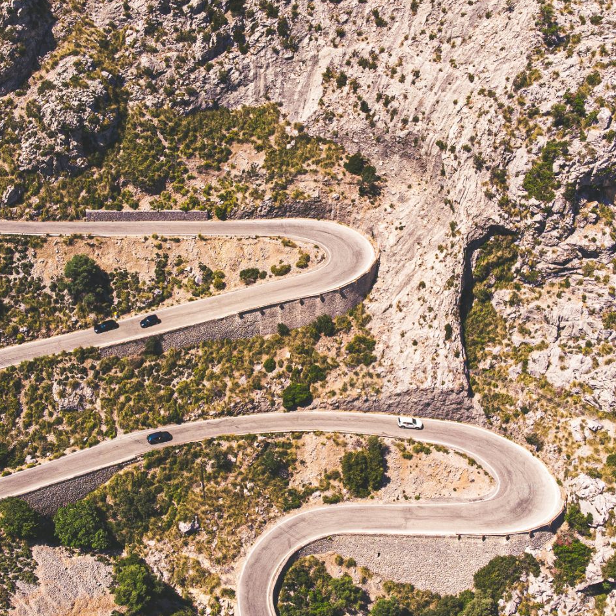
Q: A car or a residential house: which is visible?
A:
car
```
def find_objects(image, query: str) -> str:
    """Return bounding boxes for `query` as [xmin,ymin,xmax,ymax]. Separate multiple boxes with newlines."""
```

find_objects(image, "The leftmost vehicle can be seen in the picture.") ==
[93,320,119,336]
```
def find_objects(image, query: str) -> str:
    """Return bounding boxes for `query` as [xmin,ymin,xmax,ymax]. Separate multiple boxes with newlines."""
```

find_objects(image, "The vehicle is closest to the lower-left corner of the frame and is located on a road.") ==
[147,432,174,448]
